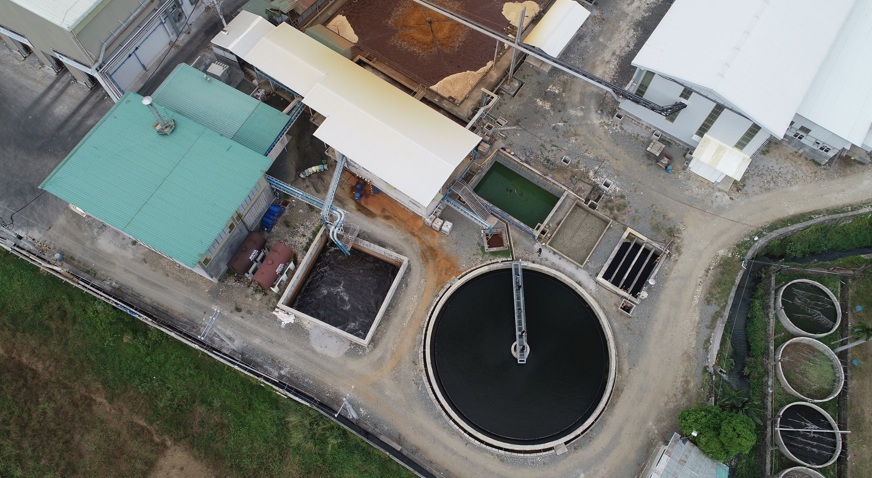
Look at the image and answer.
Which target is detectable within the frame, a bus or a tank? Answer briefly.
tank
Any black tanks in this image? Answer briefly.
Yes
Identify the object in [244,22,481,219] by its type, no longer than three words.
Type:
house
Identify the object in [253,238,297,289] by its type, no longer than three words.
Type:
storage tank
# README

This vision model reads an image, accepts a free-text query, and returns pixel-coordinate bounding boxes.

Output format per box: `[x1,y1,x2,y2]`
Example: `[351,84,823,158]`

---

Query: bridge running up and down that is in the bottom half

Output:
[511,256,529,362]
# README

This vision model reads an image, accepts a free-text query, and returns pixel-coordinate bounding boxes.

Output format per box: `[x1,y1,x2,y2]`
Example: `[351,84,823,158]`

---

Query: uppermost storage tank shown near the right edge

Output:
[774,279,842,341]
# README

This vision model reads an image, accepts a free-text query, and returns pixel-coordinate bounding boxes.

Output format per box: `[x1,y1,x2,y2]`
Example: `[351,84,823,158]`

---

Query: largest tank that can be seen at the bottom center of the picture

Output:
[421,256,617,456]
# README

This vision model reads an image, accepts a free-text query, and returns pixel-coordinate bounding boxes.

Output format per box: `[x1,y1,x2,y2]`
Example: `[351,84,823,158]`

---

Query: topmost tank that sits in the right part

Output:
[596,229,671,304]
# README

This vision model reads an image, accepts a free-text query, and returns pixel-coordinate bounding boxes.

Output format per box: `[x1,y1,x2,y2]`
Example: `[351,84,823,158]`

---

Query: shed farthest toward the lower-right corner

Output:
[648,430,729,478]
